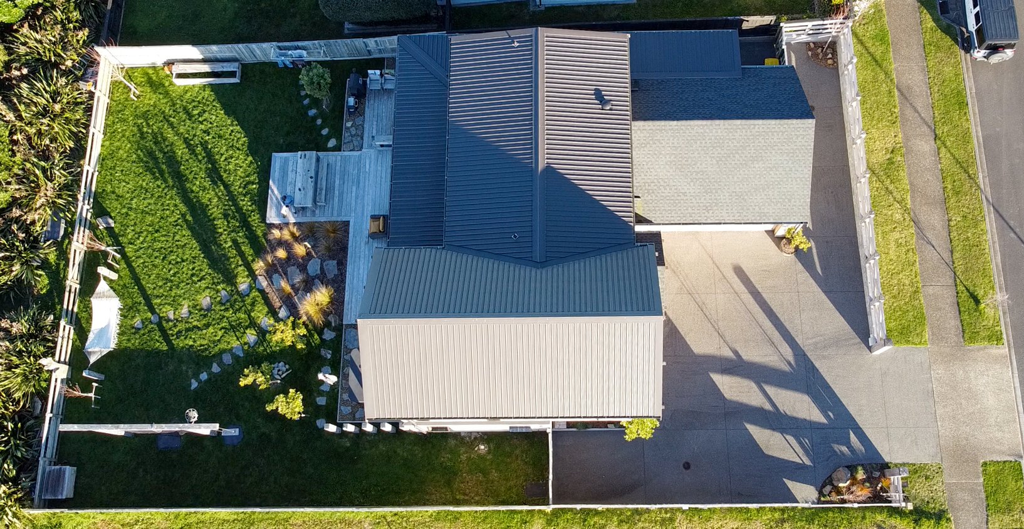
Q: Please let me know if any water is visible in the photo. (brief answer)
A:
No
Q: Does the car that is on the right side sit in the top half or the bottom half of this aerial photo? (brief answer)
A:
top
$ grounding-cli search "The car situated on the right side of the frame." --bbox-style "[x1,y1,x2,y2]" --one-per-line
[953,0,1020,63]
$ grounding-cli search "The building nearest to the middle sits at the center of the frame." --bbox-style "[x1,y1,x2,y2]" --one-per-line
[358,28,666,429]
